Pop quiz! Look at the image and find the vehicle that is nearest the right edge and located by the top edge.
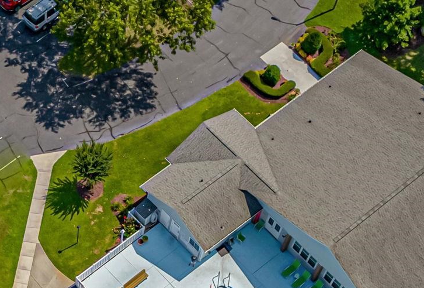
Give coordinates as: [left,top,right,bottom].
[25,0,71,33]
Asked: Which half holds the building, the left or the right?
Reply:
right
